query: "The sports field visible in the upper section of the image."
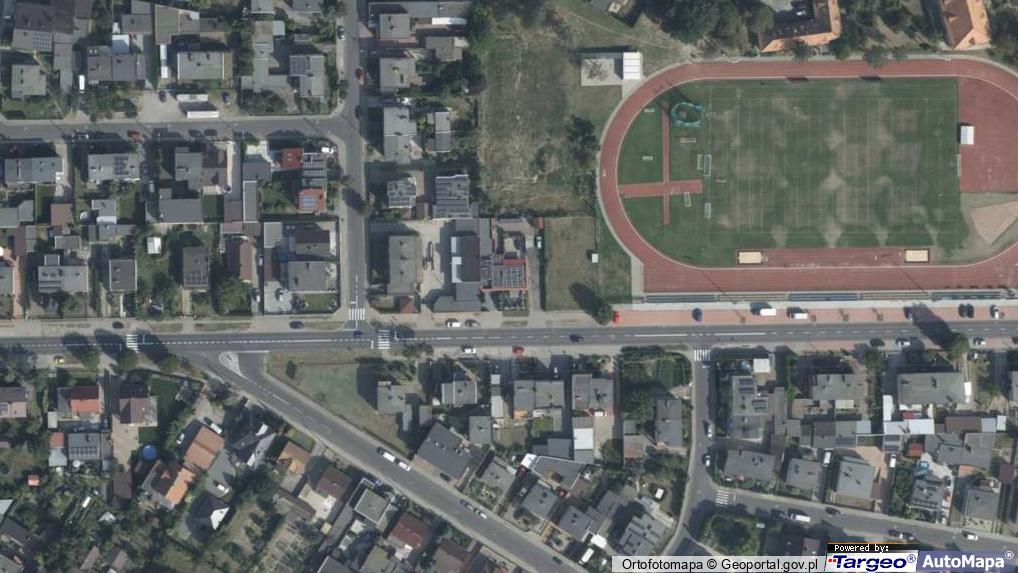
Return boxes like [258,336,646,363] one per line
[618,78,1018,267]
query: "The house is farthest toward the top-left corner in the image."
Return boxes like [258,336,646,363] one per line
[11,3,54,51]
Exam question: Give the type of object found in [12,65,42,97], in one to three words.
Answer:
house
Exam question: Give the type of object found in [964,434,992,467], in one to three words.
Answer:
shed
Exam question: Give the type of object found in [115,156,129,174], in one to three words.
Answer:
solar array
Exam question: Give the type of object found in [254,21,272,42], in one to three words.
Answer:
building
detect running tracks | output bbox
[597,57,1018,293]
